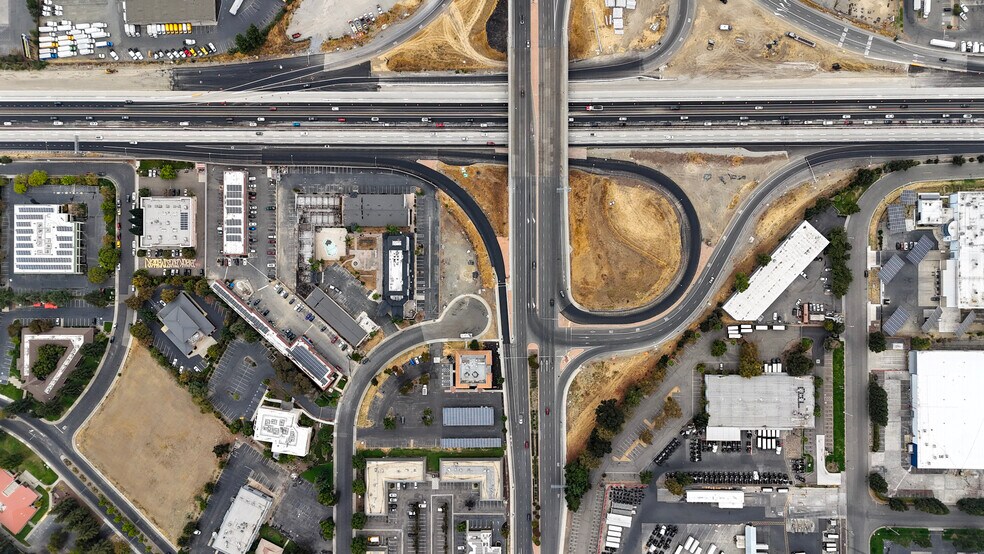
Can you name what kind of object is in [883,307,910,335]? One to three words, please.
solar panel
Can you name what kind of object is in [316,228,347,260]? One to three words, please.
swimming pool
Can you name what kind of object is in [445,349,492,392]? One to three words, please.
building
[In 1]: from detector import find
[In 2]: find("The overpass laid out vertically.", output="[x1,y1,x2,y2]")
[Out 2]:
[508,0,571,328]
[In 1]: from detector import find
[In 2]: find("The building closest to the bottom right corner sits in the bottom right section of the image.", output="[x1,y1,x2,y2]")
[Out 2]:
[904,349,984,469]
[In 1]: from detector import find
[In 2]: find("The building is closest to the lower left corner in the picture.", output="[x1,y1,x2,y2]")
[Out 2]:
[0,463,42,534]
